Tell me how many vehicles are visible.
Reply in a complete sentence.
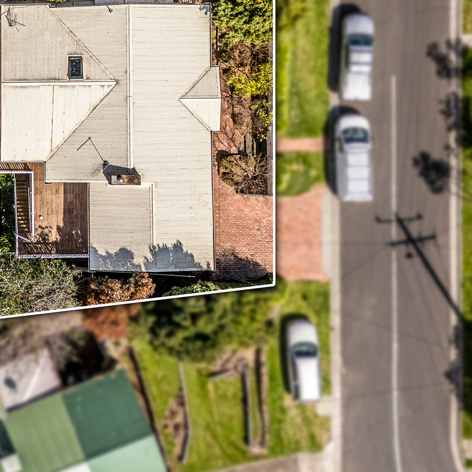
There are 3 vehicles in the image.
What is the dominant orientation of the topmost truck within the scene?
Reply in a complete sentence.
In this picture, the topmost truck is oriented up and down.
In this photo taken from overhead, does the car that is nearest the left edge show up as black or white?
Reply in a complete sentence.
The car that is nearest the left edge is white.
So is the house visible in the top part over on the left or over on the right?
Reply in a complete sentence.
The house visible in the top part sits on the left side.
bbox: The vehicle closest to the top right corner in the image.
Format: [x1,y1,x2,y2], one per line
[342,15,382,99]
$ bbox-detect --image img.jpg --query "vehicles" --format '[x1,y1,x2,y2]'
[288,320,328,405]
[338,117,381,200]
[342,15,382,99]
